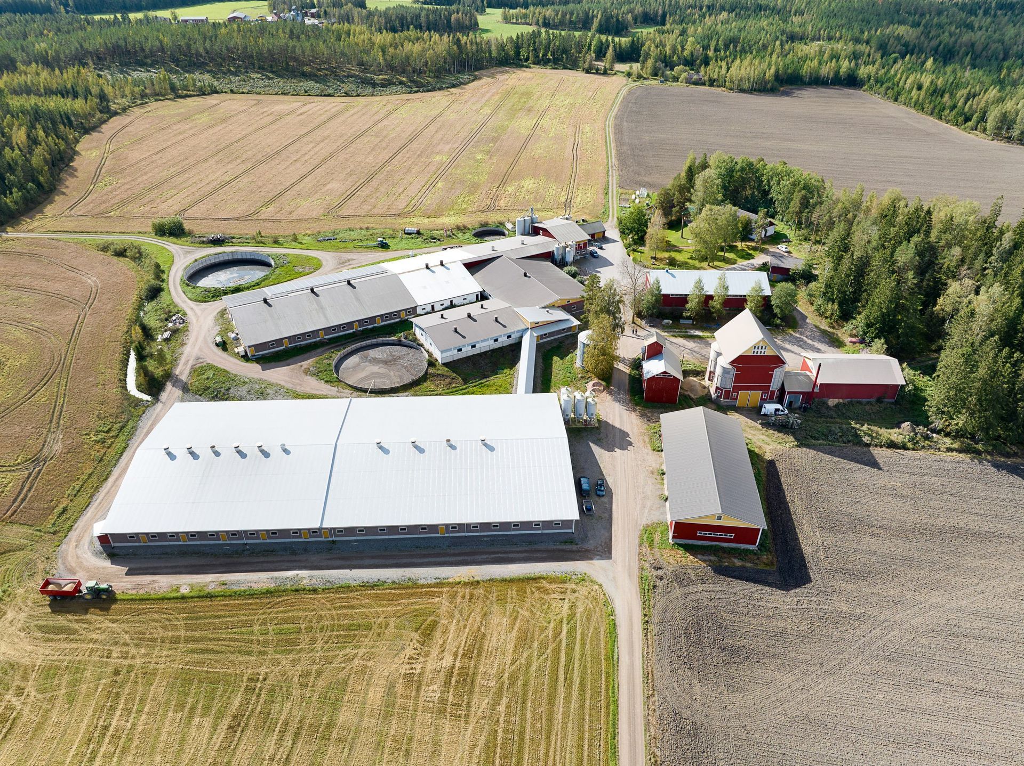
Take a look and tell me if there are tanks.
Yes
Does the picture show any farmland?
Yes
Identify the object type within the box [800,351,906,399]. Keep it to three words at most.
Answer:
barn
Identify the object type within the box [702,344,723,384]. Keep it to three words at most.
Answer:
silo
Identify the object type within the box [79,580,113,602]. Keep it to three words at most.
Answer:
work vehicle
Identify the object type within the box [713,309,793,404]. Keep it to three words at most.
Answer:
barn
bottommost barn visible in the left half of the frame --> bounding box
[90,393,579,548]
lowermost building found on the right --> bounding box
[659,406,769,550]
